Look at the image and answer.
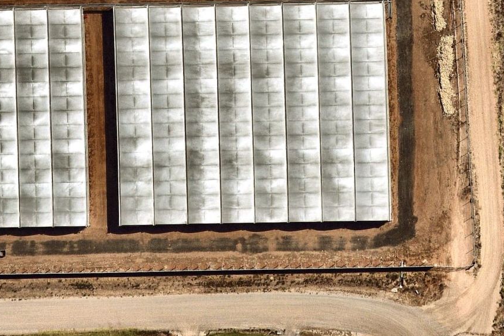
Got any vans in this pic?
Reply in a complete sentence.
No, there is no van in the image.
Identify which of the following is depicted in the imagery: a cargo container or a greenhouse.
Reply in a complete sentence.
Visible in the photo is a greenhouse.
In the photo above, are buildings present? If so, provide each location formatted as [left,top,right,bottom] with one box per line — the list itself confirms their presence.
[0,7,88,229]
[114,2,392,227]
